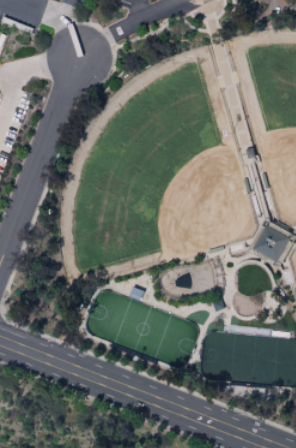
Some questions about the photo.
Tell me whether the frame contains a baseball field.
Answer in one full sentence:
Yes, a baseball field appears in the view.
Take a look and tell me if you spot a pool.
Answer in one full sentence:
No, the photo shows no pool.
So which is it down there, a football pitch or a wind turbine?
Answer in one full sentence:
I can see a football pitch in this picture.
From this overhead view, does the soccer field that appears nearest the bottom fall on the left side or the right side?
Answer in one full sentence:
You can find the soccer field that appears nearest the bottom on the right side of the picture.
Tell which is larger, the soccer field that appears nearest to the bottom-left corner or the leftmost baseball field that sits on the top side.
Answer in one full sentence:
The larger object is the baseball field, with the soccer field being the smaller of the pair.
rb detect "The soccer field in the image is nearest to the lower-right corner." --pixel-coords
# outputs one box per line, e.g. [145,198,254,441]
[200,332,296,387]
